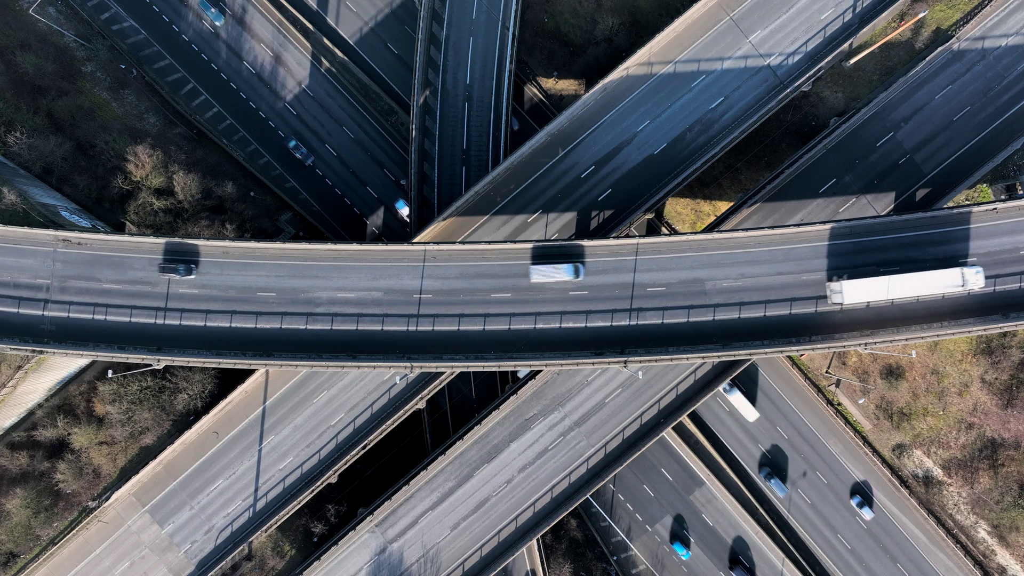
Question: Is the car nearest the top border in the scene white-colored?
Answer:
No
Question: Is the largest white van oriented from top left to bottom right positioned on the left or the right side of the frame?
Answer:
right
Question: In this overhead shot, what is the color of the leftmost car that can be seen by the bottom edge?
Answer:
blue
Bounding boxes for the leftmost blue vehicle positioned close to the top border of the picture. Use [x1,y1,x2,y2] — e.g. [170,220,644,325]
[197,0,228,28]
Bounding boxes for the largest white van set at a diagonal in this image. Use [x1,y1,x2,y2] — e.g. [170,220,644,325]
[718,379,762,424]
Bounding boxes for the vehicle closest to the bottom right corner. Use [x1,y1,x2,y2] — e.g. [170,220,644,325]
[848,492,875,521]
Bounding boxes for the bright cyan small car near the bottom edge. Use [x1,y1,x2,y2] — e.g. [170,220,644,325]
[668,535,692,560]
